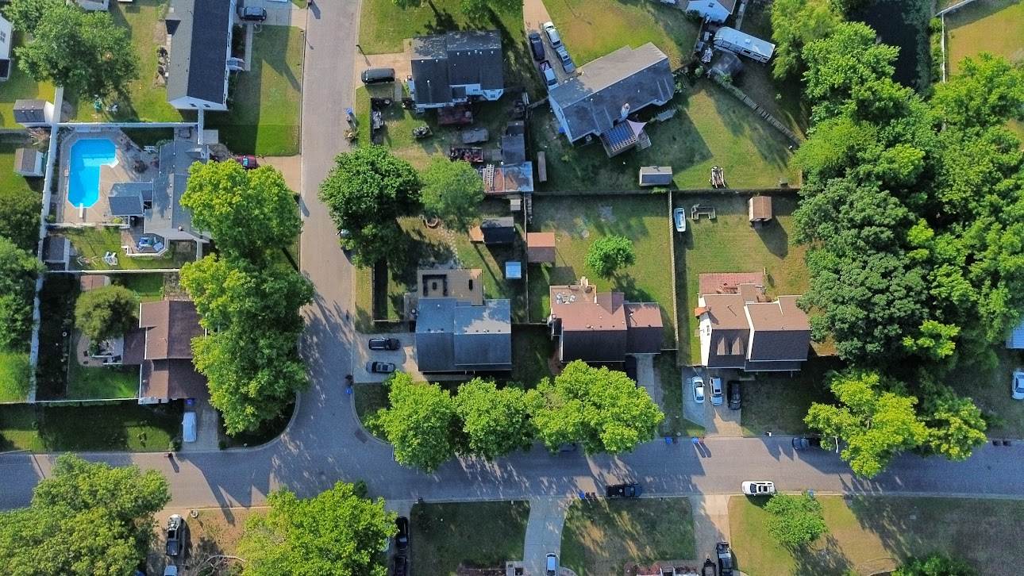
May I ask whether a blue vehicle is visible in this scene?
Yes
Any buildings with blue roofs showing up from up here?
Yes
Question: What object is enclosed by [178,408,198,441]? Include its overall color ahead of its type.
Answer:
blue vehicle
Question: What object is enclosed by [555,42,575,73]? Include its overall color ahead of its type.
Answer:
blue car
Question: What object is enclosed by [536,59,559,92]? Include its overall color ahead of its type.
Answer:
blue truck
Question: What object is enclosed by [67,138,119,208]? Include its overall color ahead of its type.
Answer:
blue swimming pool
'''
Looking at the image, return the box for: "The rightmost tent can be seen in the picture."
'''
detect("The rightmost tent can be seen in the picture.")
[715,47,746,79]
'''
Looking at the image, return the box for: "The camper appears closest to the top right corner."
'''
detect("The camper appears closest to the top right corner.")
[712,23,776,65]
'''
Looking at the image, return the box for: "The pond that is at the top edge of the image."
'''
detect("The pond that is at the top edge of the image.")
[854,0,932,98]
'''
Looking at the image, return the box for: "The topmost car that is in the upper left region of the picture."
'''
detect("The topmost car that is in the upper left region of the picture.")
[238,4,267,21]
